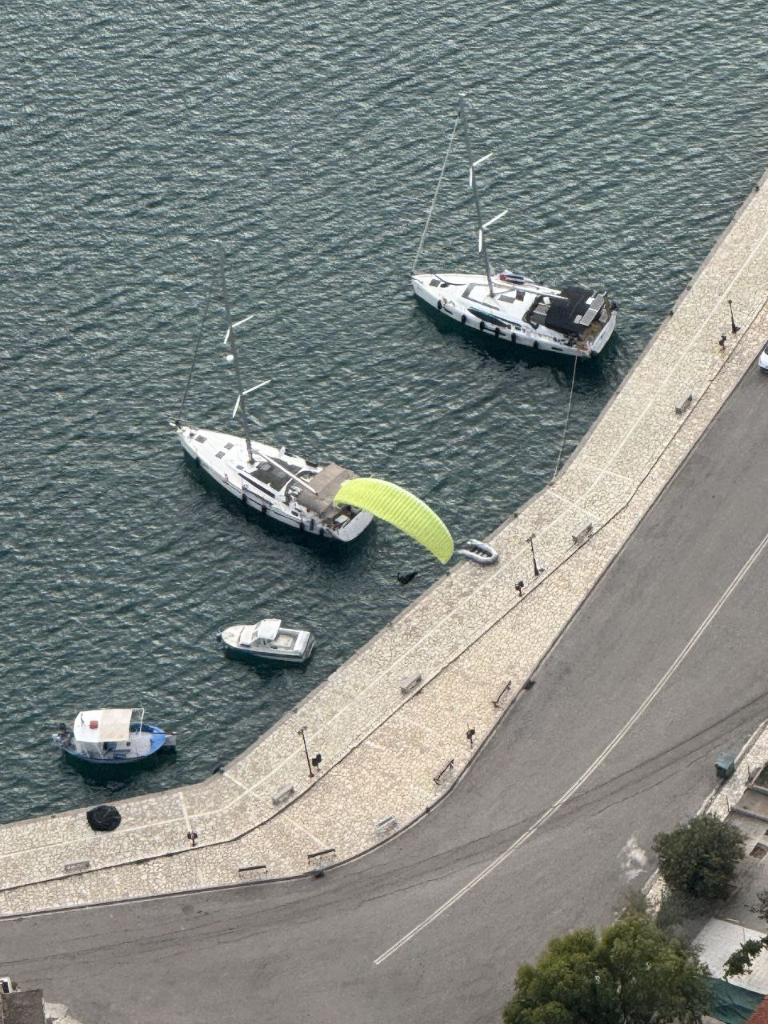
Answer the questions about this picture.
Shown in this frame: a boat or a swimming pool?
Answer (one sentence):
The one in the frame is a boat.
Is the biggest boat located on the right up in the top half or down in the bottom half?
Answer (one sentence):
The biggest boat located on the right sits in the top half of the picture.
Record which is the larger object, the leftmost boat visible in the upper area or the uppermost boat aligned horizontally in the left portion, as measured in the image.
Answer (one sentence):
Compared with the uppermost boat aligned horizontally in the left portion, the leftmost boat visible in the upper area is the bigger one.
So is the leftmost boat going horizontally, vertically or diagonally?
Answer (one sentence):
The leftmost boat is oriented horizontally.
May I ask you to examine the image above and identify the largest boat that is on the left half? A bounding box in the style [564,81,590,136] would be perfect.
[175,235,375,549]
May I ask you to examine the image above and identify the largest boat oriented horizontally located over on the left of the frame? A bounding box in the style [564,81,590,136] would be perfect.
[59,705,183,758]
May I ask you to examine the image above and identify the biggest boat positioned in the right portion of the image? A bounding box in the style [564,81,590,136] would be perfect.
[409,87,620,362]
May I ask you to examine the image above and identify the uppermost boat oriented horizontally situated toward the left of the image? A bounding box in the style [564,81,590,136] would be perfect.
[218,616,321,662]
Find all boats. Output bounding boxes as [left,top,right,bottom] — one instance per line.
[59,705,183,758]
[175,235,375,549]
[456,535,498,562]
[218,616,321,662]
[409,87,620,362]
